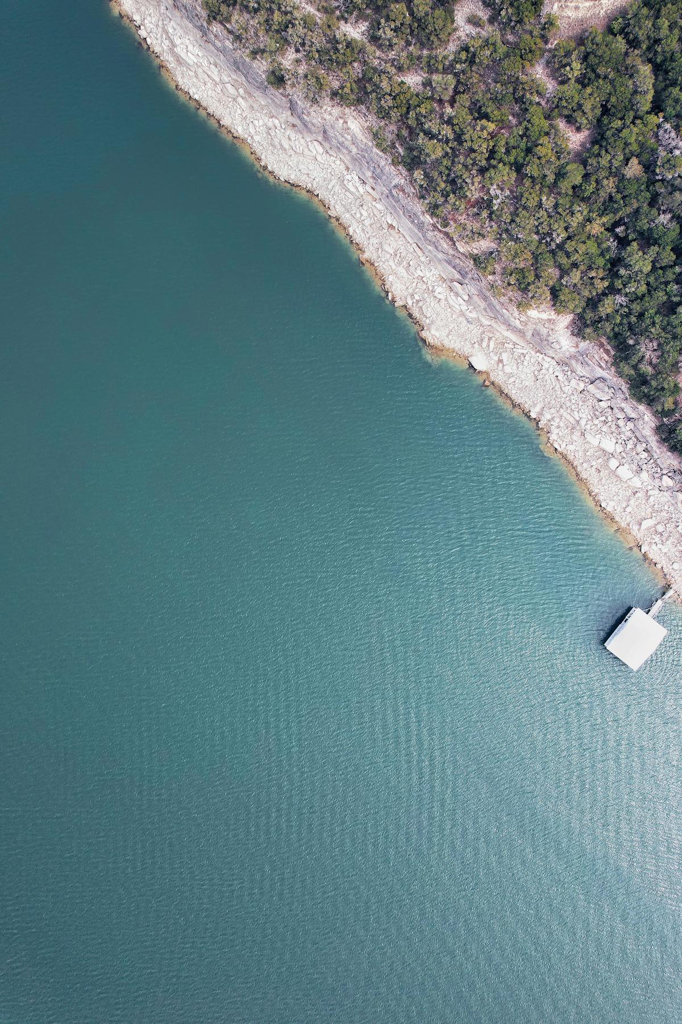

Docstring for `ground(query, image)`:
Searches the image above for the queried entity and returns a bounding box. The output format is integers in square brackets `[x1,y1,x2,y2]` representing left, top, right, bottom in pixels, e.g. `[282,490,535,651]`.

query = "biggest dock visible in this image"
[604,607,667,670]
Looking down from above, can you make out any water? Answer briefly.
Yes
